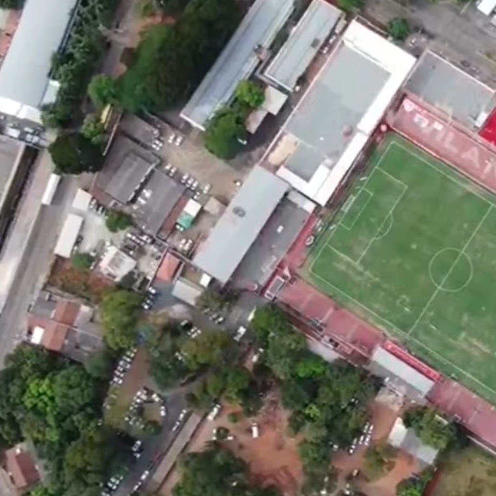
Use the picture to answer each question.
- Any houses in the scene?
Yes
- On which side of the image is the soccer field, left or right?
right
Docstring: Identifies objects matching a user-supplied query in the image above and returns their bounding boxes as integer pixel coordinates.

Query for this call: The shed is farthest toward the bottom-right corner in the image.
[401,427,439,465]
